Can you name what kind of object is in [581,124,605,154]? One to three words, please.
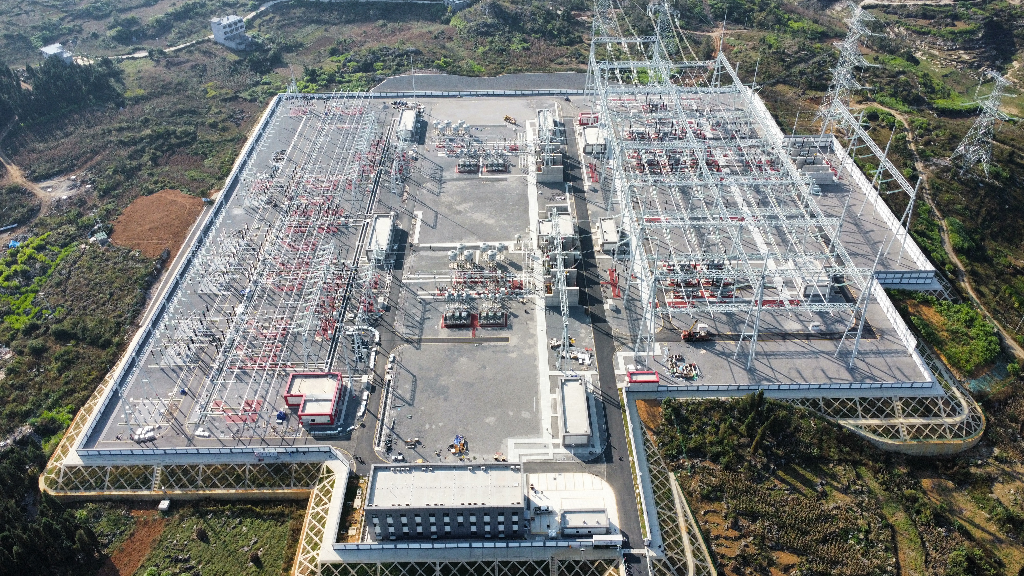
house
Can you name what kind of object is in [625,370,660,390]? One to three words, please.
building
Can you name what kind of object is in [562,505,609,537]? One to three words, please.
building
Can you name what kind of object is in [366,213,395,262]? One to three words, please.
house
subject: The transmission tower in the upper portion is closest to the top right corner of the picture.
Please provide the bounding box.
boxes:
[927,69,1008,183]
